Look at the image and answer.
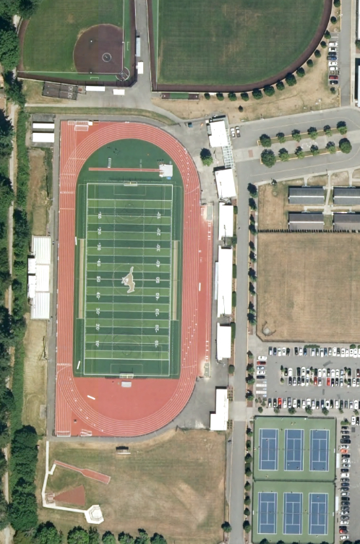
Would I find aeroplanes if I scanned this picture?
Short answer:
No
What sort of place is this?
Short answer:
sports ground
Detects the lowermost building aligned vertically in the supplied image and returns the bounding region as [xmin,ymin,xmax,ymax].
[211,388,228,432]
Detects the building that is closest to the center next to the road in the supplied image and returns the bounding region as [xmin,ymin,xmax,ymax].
[215,168,236,199]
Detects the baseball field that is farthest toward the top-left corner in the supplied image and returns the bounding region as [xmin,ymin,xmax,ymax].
[18,0,137,85]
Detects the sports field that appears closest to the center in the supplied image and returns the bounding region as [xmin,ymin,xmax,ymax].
[73,139,184,379]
